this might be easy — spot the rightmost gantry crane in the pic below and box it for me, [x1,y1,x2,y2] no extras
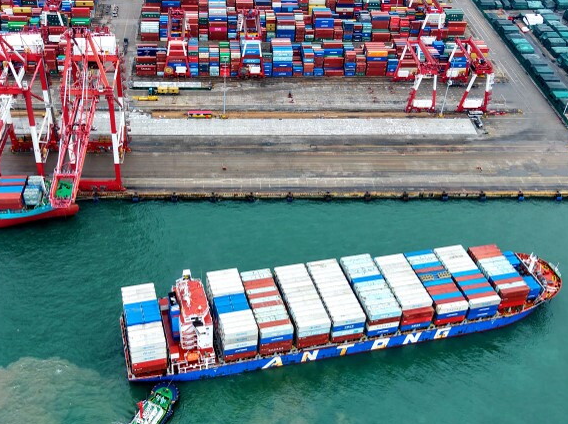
[441,35,501,111]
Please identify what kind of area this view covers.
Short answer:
port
